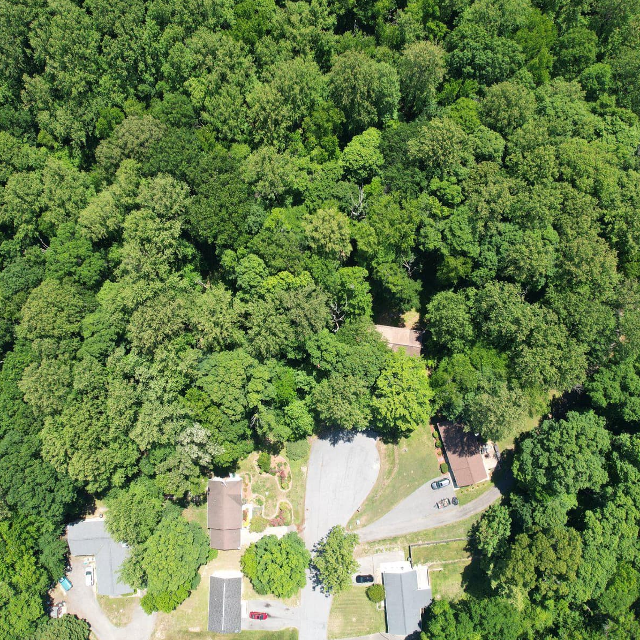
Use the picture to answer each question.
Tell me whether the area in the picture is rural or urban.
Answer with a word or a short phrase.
rural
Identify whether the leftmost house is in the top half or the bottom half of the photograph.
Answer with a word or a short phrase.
bottom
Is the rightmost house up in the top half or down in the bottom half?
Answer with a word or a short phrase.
bottom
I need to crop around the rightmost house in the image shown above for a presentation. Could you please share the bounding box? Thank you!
[437,418,489,489]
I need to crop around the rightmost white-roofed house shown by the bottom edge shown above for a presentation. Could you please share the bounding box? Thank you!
[384,562,433,637]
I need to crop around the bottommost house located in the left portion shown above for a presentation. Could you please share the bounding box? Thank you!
[208,573,242,636]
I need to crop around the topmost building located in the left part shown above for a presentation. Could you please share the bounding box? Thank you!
[208,478,244,551]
